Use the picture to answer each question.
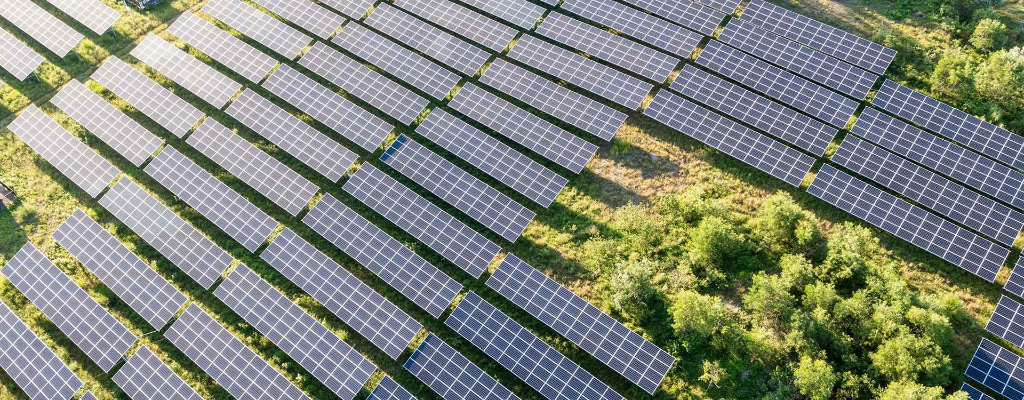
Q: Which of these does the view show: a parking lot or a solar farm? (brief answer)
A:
solar farm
